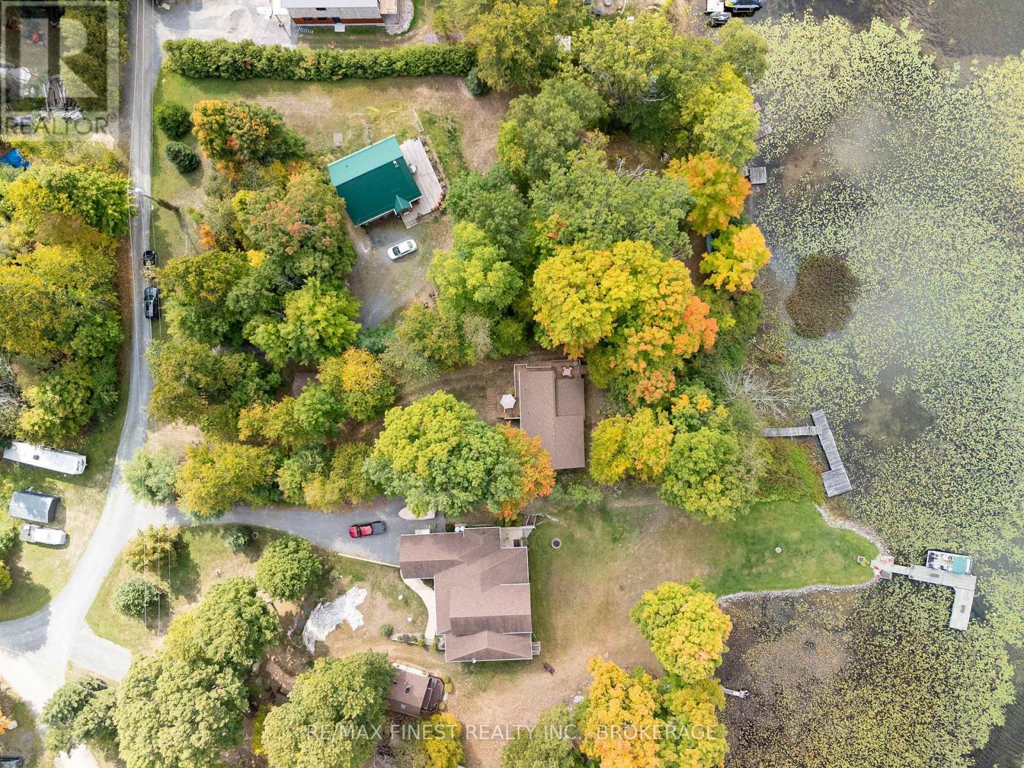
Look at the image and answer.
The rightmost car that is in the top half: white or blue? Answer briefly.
white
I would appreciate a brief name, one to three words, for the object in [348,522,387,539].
vehicle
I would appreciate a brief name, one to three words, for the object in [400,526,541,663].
house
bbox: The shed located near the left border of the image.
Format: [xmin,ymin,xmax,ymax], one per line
[1,489,54,524]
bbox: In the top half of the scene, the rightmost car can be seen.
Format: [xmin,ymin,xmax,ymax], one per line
[385,238,417,259]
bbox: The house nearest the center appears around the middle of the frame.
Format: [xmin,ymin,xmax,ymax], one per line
[487,359,588,470]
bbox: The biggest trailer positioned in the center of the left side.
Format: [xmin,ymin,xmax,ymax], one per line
[8,440,98,473]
